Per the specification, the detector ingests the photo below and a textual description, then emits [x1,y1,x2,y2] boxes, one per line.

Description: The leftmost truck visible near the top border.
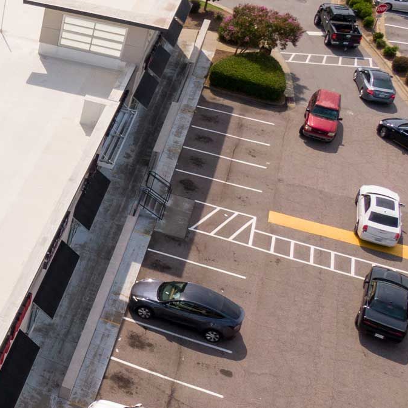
[320,1,363,43]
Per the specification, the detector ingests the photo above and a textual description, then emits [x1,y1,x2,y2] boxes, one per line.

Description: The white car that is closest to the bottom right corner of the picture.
[353,184,408,250]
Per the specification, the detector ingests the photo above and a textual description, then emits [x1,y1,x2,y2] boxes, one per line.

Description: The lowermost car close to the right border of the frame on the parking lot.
[355,265,408,344]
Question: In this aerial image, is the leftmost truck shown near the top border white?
No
